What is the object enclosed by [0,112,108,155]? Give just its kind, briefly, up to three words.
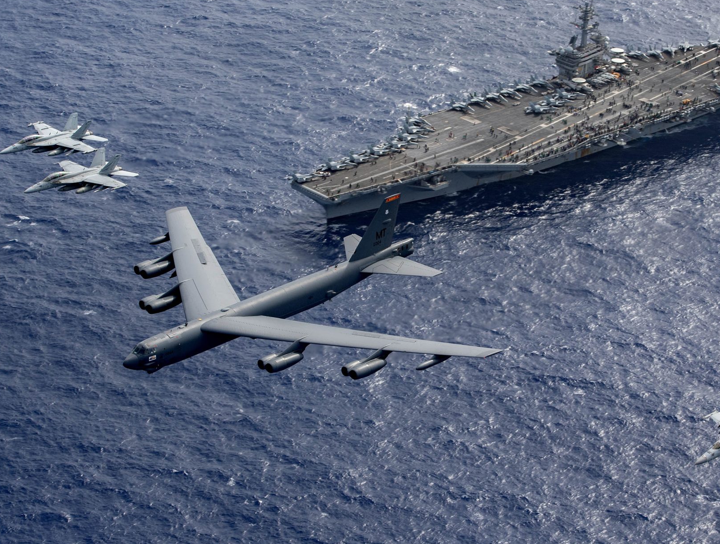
airplane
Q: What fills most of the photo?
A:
water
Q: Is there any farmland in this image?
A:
No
